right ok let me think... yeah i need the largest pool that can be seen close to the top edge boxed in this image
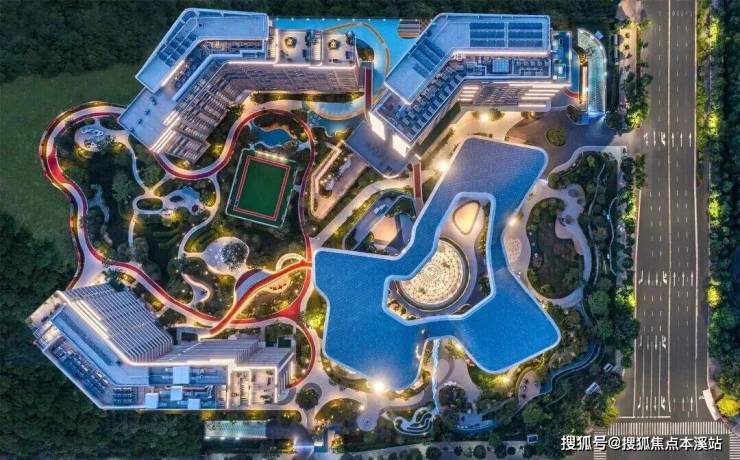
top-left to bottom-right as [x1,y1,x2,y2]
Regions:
[270,16,436,103]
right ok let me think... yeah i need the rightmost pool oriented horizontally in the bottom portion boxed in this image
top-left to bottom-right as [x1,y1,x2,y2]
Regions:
[454,418,502,433]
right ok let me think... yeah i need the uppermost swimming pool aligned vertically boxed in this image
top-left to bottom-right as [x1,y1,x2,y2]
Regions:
[569,47,581,95]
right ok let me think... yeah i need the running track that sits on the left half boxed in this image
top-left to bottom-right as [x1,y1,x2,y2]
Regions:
[42,104,317,386]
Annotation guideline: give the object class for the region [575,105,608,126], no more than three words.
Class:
swimming pool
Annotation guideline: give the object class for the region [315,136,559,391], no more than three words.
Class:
building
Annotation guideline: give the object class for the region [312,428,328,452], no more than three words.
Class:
building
